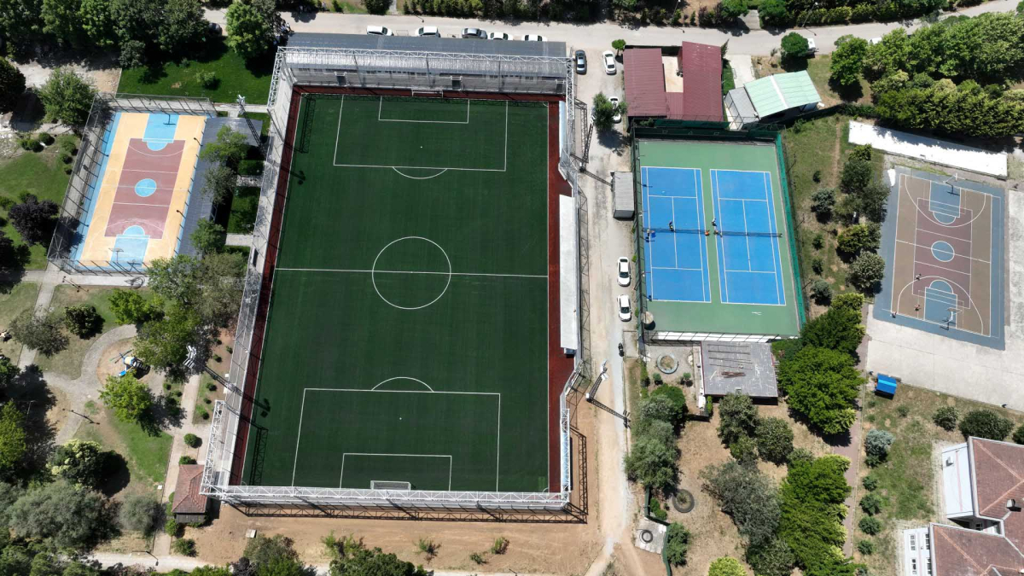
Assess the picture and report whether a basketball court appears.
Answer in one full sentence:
Yes, looking at the shot, I can spot a basketball court.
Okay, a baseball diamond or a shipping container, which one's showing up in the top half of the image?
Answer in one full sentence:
What appears in the top half of the image is a shipping container.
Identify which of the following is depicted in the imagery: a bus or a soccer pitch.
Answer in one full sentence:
I can see a soccer pitch in this picture.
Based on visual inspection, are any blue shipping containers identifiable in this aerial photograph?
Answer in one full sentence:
No, the frame has no blue shipping container in it.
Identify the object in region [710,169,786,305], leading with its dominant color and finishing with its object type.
blue tennis court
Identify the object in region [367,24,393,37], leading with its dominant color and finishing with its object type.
white vehicle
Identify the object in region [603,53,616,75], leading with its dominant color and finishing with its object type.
white vehicle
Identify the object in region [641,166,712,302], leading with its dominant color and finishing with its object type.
blue tennis court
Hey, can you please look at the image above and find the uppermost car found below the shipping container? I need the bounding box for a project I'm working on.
[617,259,631,286]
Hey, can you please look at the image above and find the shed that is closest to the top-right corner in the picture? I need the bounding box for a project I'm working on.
[740,68,821,123]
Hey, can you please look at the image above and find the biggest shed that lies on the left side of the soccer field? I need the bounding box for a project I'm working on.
[171,465,212,523]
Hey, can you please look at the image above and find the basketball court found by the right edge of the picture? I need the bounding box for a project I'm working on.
[873,166,1005,351]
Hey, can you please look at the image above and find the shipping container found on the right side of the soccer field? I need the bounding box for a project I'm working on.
[610,171,635,218]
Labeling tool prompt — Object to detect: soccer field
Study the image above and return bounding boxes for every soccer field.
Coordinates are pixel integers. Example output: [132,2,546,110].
[228,85,575,495]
